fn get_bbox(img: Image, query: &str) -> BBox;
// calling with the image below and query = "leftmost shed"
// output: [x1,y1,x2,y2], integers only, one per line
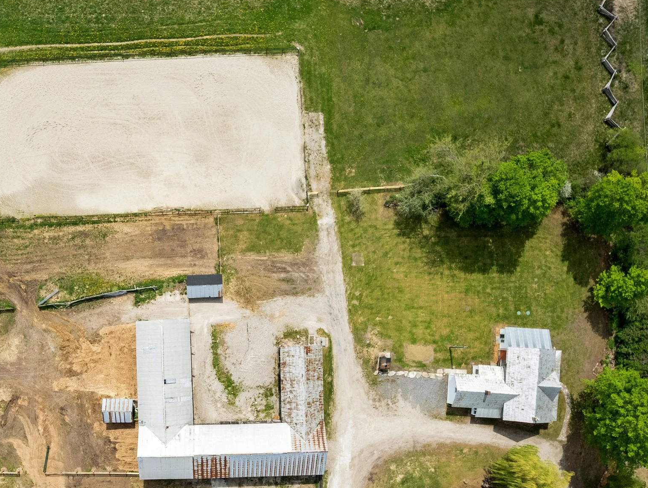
[101,398,138,423]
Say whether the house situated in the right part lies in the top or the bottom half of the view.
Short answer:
bottom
